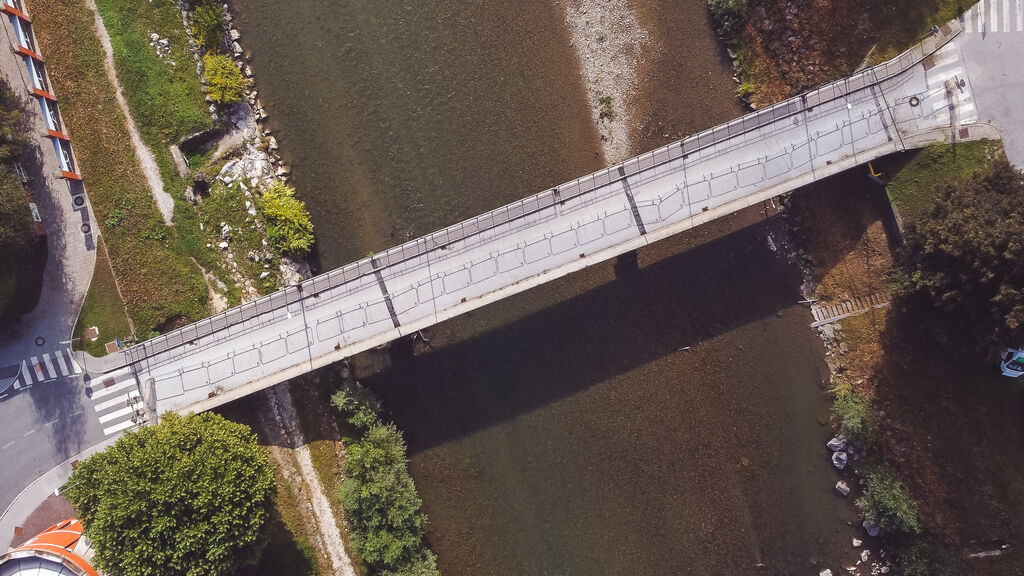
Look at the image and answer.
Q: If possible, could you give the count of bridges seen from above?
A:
1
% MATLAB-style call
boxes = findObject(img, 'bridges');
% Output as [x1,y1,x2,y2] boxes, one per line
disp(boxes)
[110,63,908,431]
